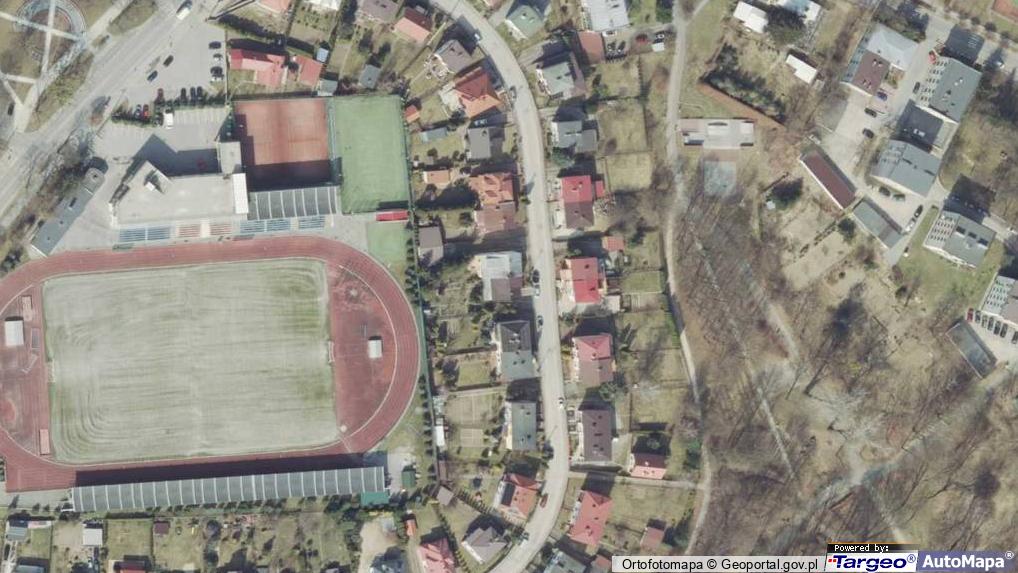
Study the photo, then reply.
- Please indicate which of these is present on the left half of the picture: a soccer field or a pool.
soccer field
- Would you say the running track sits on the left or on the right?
left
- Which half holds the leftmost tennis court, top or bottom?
top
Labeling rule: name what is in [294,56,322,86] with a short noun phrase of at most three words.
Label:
house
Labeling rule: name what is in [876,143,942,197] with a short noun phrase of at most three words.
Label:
building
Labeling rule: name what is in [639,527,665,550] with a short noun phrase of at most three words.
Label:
shed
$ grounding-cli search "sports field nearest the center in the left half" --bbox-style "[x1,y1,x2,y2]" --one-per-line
[367,222,414,272]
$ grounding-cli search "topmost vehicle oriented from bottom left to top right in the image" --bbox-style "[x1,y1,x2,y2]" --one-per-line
[177,2,191,19]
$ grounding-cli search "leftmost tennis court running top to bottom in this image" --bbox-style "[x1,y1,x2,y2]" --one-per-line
[234,99,283,190]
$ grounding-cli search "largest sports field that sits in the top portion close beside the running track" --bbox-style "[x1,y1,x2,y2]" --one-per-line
[335,95,412,215]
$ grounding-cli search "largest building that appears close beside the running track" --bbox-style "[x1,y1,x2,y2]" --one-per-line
[105,161,250,224]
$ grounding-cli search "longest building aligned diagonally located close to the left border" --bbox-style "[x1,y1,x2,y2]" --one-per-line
[31,168,105,256]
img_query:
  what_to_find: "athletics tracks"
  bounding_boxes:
[0,234,421,493]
